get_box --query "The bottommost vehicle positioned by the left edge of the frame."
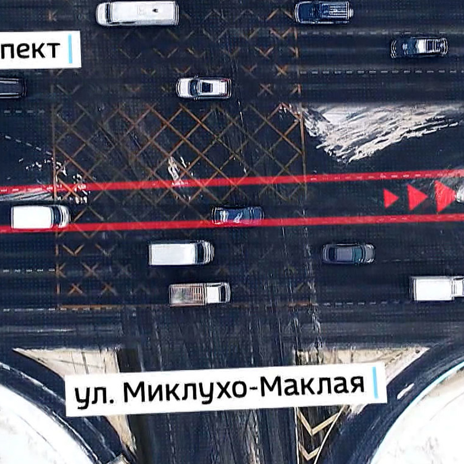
[8,204,71,232]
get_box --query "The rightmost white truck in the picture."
[408,273,464,303]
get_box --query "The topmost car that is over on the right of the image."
[294,0,354,25]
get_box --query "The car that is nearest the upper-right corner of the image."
[389,34,447,61]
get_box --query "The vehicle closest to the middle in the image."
[211,204,264,230]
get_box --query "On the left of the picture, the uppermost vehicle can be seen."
[96,0,179,28]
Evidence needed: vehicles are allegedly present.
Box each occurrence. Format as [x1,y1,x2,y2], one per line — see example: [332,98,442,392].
[177,75,231,100]
[8,204,71,232]
[96,0,179,28]
[322,241,376,266]
[147,239,214,269]
[169,279,232,306]
[389,34,447,61]
[408,273,464,303]
[294,0,354,25]
[211,204,264,230]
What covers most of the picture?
paved ground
